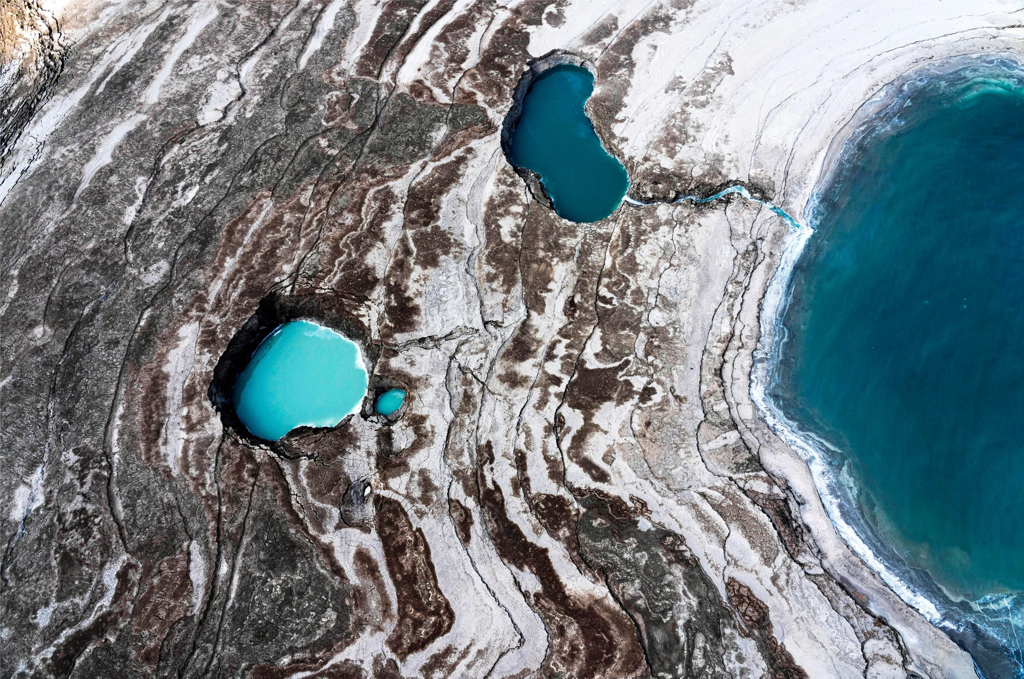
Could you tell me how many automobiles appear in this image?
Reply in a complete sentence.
There are no automobiles in the image.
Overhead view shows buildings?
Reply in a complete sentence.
No, the picture doesn't show any building.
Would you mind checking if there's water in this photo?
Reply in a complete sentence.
Yes, some water is visible.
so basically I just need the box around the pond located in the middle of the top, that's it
[510,64,630,222]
